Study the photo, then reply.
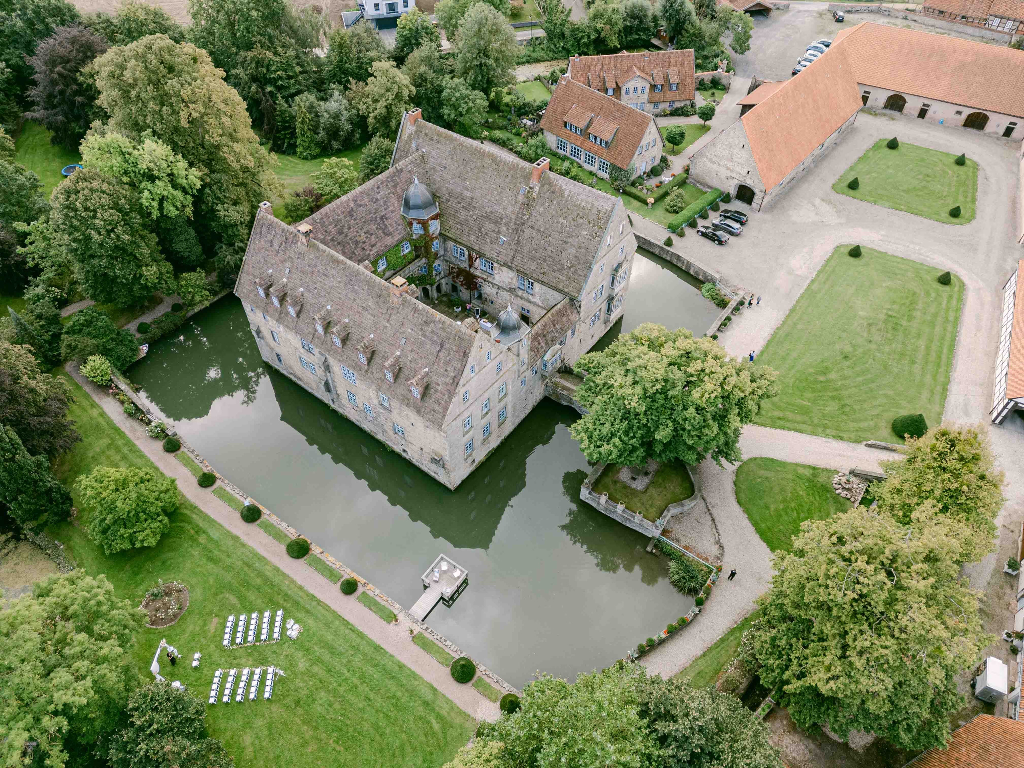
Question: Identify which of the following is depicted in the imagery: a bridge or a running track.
bridge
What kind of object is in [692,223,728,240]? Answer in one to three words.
car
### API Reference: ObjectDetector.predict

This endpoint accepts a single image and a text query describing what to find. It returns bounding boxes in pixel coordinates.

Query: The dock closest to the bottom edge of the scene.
[411,555,474,625]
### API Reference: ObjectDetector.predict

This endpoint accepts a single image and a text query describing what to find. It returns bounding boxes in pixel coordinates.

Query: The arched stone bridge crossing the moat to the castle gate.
[543,359,591,418]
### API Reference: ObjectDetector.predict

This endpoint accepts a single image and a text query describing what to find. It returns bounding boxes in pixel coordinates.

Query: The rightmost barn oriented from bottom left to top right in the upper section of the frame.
[680,16,873,206]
